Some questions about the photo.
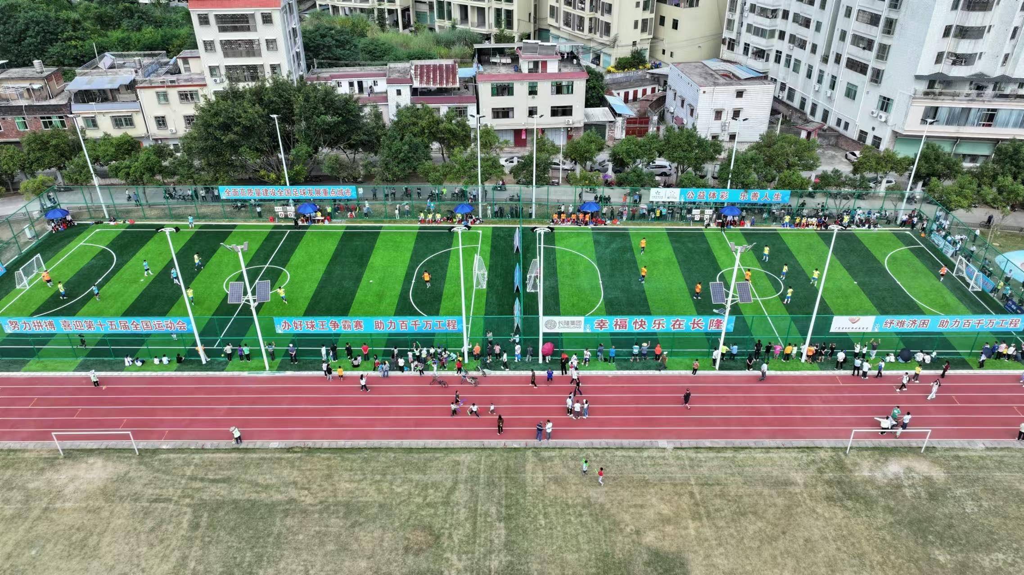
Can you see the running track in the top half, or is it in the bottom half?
bottom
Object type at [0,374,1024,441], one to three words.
running track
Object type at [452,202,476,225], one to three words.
umbrella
